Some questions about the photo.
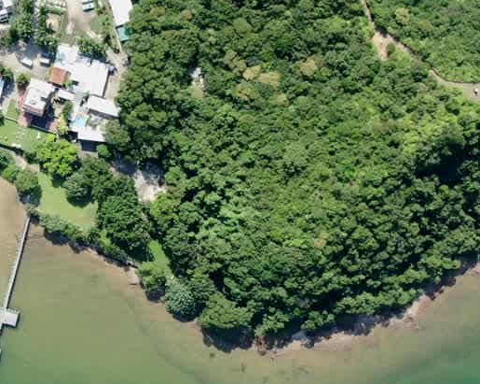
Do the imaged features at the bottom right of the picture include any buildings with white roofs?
No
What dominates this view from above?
trees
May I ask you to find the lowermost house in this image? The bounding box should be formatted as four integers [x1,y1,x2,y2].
[77,125,108,144]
